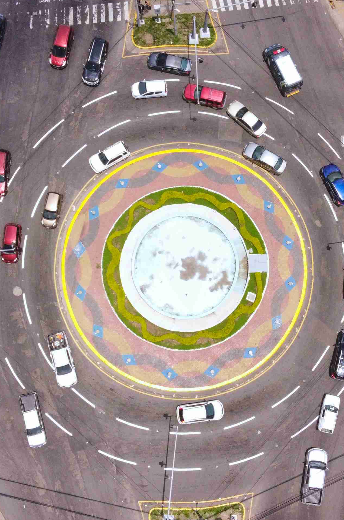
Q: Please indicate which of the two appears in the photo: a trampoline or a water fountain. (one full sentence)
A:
I can see a water fountain in this picture.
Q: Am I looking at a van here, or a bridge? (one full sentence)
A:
Visible in the photo is a van.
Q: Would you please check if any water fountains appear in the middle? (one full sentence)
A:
Yes, I can see a water fountain in the middle.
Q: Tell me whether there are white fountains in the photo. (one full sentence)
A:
Yes, there is a white fountain in the image.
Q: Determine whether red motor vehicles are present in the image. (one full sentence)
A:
Yes, there's a red motor vehicle here.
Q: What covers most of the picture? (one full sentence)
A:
For the most part, this view shows paved ground.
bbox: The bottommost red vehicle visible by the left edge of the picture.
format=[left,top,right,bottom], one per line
[0,223,22,264]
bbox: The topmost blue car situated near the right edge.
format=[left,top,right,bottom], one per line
[323,165,344,206]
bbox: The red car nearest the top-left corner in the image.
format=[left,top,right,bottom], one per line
[51,27,74,69]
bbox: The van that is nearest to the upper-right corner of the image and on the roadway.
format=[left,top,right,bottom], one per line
[267,43,302,101]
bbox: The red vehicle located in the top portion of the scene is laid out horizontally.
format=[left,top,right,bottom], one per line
[181,84,227,110]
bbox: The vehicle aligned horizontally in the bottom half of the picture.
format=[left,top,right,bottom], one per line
[176,399,225,424]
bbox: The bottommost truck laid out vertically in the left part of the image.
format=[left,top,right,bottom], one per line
[18,390,47,448]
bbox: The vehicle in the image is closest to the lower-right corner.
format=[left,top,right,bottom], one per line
[302,445,328,507]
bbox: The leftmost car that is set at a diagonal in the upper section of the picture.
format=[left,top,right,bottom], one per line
[88,138,132,174]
